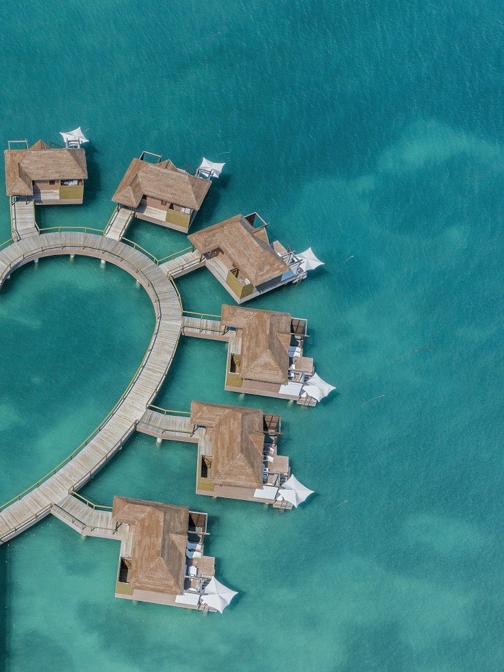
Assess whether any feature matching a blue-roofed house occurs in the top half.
No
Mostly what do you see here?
water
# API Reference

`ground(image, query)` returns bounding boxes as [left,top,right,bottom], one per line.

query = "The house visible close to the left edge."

[3,135,87,212]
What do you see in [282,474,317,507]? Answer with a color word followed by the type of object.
white umbrella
